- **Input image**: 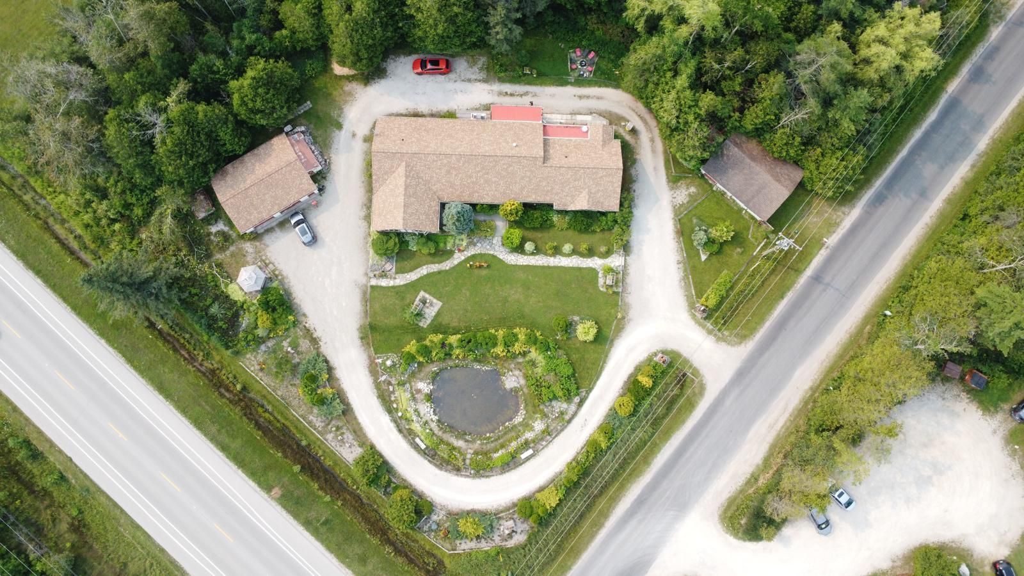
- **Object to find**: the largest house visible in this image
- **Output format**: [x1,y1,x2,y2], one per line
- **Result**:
[370,105,624,233]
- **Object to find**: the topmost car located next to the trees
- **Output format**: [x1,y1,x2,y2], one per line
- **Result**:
[412,56,451,76]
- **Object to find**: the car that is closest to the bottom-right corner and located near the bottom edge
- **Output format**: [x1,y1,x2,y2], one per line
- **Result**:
[990,554,1017,576]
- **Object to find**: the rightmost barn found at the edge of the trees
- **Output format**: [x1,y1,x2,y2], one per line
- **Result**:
[694,121,803,225]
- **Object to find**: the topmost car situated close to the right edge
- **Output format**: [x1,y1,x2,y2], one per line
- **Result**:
[1002,395,1024,427]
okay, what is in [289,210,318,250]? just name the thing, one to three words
car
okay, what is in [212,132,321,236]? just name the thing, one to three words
building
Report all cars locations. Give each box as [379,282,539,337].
[289,210,318,250]
[412,56,451,76]
[990,554,1017,576]
[1002,395,1024,427]
[828,480,860,516]
[804,503,835,541]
